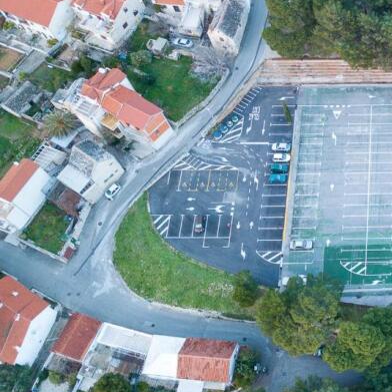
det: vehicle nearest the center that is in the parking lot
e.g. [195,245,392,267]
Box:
[192,212,205,232]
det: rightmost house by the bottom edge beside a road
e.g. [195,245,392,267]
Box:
[176,338,239,392]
